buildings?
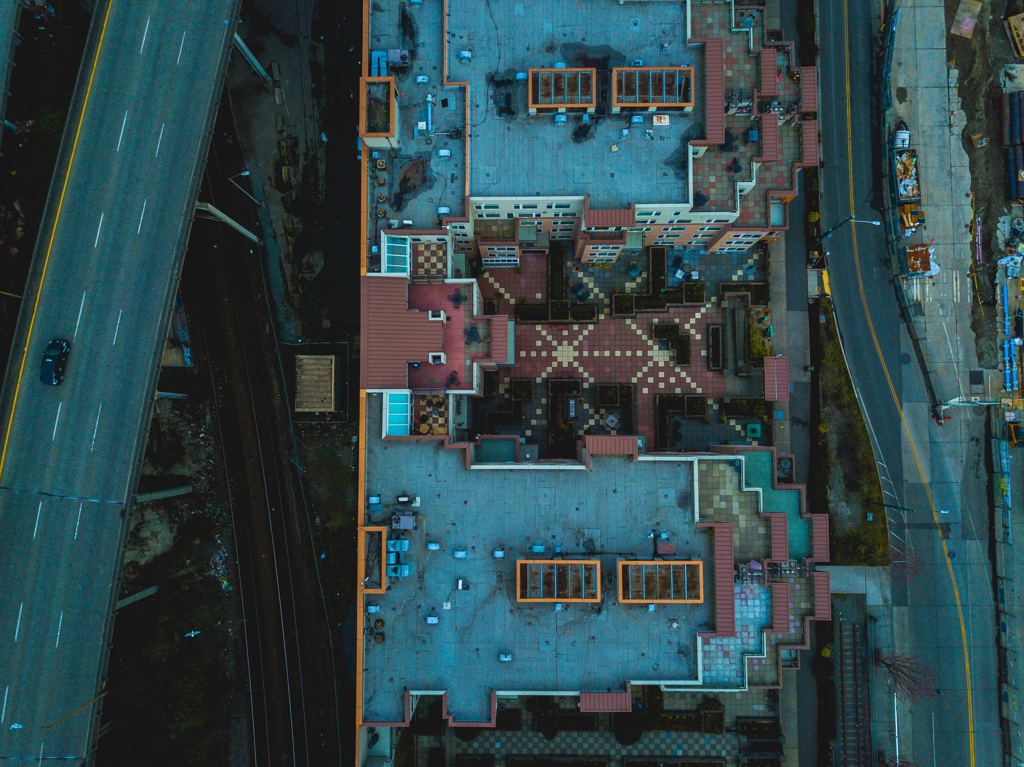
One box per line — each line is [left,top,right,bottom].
[359,0,817,282]
[294,355,344,412]
[355,388,830,767]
